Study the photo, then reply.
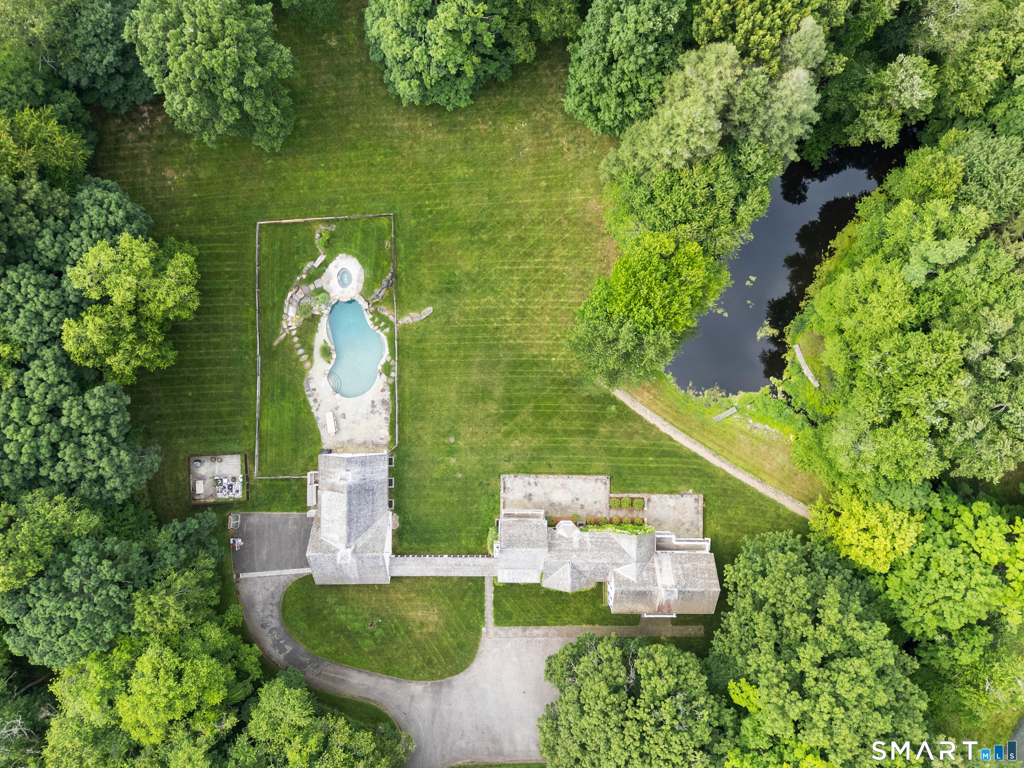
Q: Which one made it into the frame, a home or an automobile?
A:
home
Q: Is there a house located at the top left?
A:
No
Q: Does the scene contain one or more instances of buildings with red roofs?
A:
No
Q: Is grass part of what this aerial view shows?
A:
Yes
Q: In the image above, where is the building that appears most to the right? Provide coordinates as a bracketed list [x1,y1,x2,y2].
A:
[497,508,720,618]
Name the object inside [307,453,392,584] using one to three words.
building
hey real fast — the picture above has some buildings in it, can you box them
[307,453,392,584]
[497,508,720,618]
